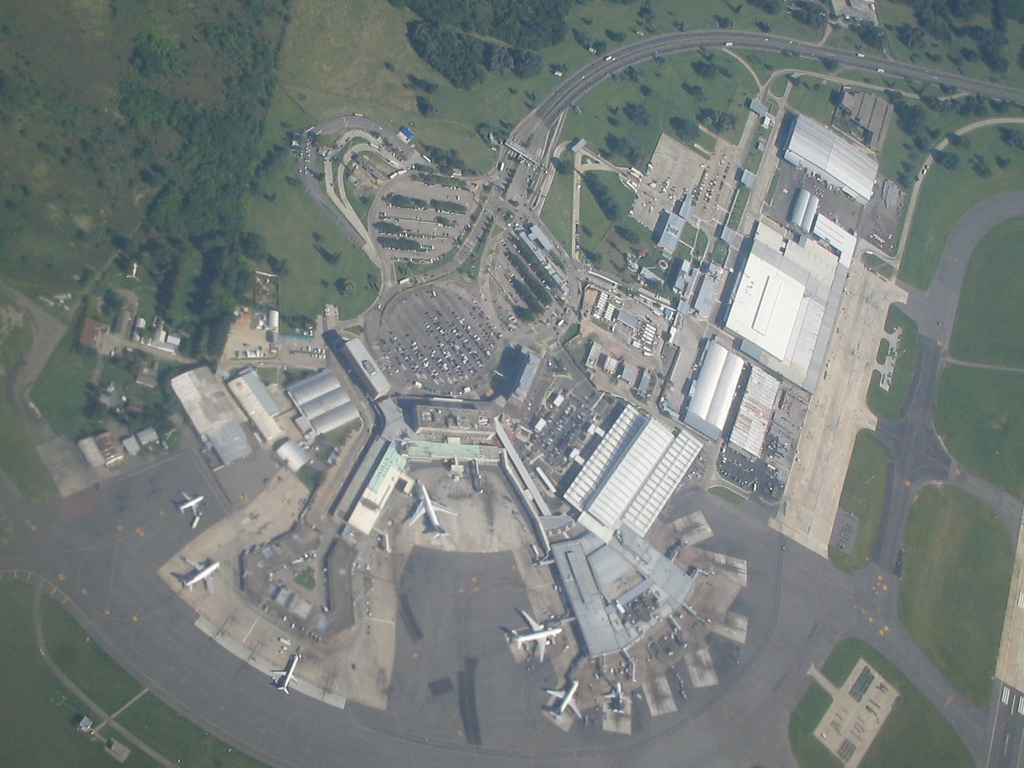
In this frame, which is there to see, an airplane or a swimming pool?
airplane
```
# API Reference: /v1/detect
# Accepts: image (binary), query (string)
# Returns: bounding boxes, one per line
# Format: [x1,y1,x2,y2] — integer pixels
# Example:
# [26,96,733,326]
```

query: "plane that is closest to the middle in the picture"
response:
[411,480,457,535]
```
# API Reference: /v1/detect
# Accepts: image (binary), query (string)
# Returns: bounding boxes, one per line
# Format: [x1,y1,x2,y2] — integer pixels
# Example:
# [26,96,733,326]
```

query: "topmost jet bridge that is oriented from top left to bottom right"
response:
[369,525,391,555]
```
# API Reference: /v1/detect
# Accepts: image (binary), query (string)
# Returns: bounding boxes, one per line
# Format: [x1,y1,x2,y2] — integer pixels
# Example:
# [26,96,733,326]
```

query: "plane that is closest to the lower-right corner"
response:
[606,684,630,711]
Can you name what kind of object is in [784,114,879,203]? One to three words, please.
hangar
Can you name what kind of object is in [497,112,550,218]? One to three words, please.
toll station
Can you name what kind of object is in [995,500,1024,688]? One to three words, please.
runway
